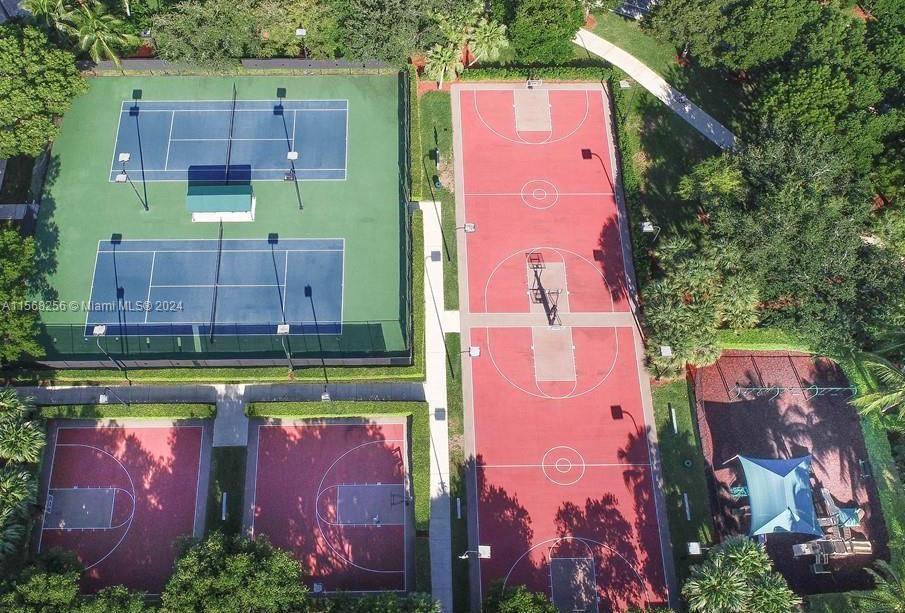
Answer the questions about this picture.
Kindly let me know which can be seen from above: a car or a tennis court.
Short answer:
tennis court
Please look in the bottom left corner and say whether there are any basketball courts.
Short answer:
Yes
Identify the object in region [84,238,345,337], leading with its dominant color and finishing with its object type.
blue tennis court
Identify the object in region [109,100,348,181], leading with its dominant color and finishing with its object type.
blue tennis court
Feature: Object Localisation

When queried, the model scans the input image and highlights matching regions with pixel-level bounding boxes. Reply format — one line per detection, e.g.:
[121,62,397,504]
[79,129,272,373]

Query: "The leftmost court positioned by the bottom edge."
[25,418,212,602]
